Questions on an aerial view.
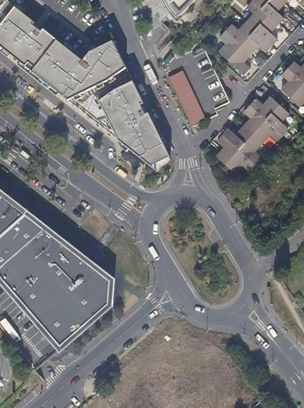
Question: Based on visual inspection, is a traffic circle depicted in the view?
Yes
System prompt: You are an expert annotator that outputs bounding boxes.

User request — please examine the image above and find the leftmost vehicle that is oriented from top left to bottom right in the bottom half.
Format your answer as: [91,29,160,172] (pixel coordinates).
[0,317,20,340]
